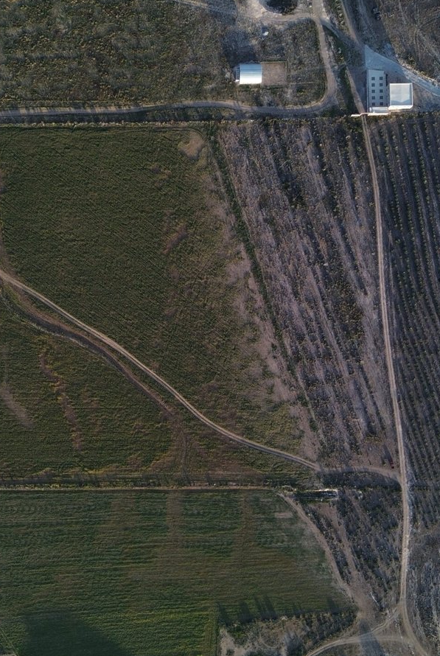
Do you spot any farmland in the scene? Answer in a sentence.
Yes, the picture does contain farmland.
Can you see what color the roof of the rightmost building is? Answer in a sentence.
The color of the roof on the rightmost building is white.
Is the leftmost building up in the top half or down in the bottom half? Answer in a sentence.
The top half of the photo is where the leftmost building is.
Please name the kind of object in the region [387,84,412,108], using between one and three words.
building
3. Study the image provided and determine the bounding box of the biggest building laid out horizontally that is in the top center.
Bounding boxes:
[236,63,287,87]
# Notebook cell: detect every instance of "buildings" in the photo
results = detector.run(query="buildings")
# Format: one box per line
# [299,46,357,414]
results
[387,84,412,108]
[365,70,385,108]
[236,63,287,87]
